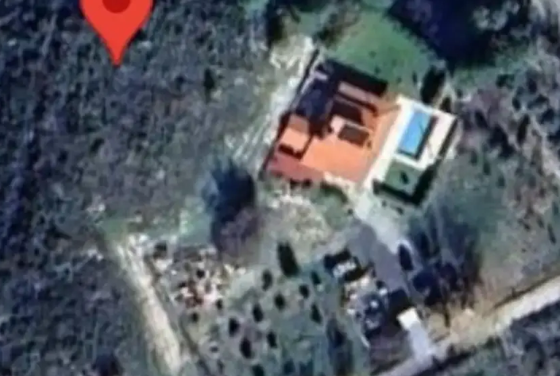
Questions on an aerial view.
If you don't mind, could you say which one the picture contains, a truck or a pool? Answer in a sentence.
Looking from above, you can make out a pool.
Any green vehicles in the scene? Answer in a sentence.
No, there's no green vehicle here.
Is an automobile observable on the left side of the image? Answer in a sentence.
No, no automobile can be made out on the left side of the image.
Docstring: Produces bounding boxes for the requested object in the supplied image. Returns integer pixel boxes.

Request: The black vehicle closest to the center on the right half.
[330,248,353,265]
